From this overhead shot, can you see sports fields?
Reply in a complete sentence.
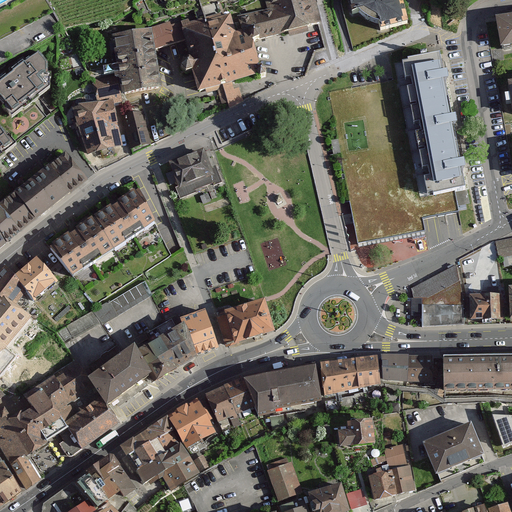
Yes, a sports field can be made out from above.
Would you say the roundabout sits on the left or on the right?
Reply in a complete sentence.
You can find the roundabout on the right side of the picture.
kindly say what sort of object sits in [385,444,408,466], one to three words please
house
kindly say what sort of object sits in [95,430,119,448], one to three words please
vehicle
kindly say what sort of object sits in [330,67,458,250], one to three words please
sports field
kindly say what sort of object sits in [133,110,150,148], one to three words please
shed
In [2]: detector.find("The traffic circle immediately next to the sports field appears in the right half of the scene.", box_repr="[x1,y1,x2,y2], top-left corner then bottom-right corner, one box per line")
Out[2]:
[300,278,375,352]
